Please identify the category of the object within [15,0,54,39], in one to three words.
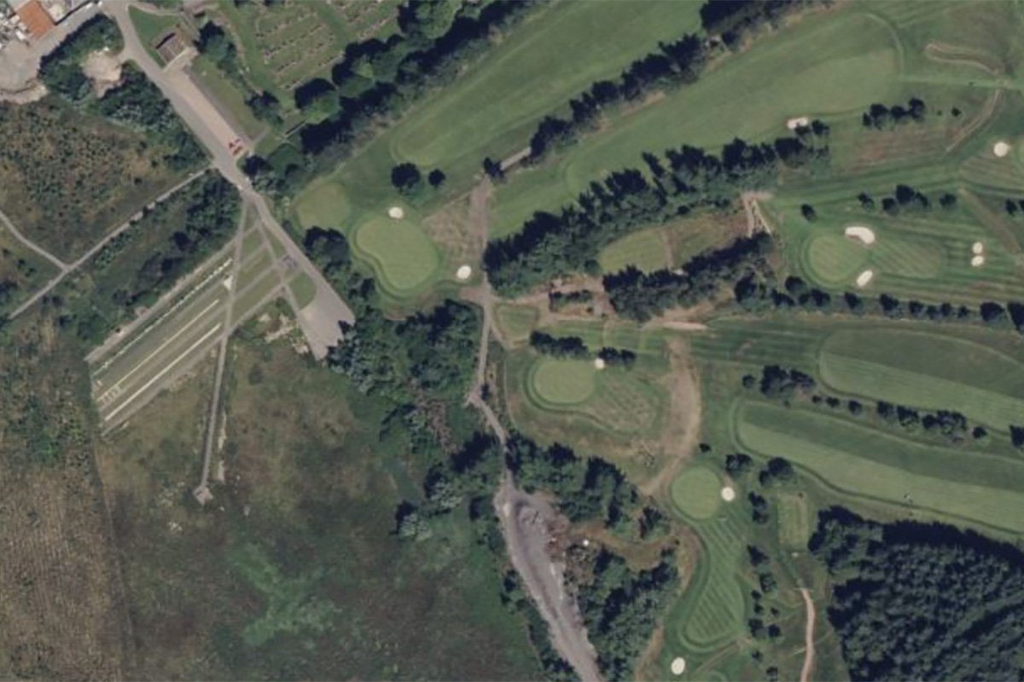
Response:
building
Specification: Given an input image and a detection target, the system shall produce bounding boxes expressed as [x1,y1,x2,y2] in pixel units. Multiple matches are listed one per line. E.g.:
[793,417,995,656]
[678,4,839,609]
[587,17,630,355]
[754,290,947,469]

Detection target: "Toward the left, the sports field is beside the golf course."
[82,208,313,437]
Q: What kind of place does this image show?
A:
golf course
